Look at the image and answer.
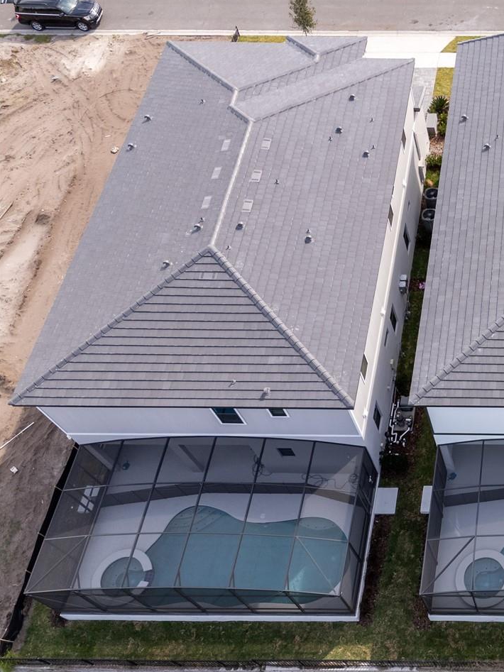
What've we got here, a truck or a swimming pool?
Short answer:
swimming pool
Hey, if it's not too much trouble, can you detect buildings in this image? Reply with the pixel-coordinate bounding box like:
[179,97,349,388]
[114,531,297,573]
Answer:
[9,34,428,471]
[408,32,504,468]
